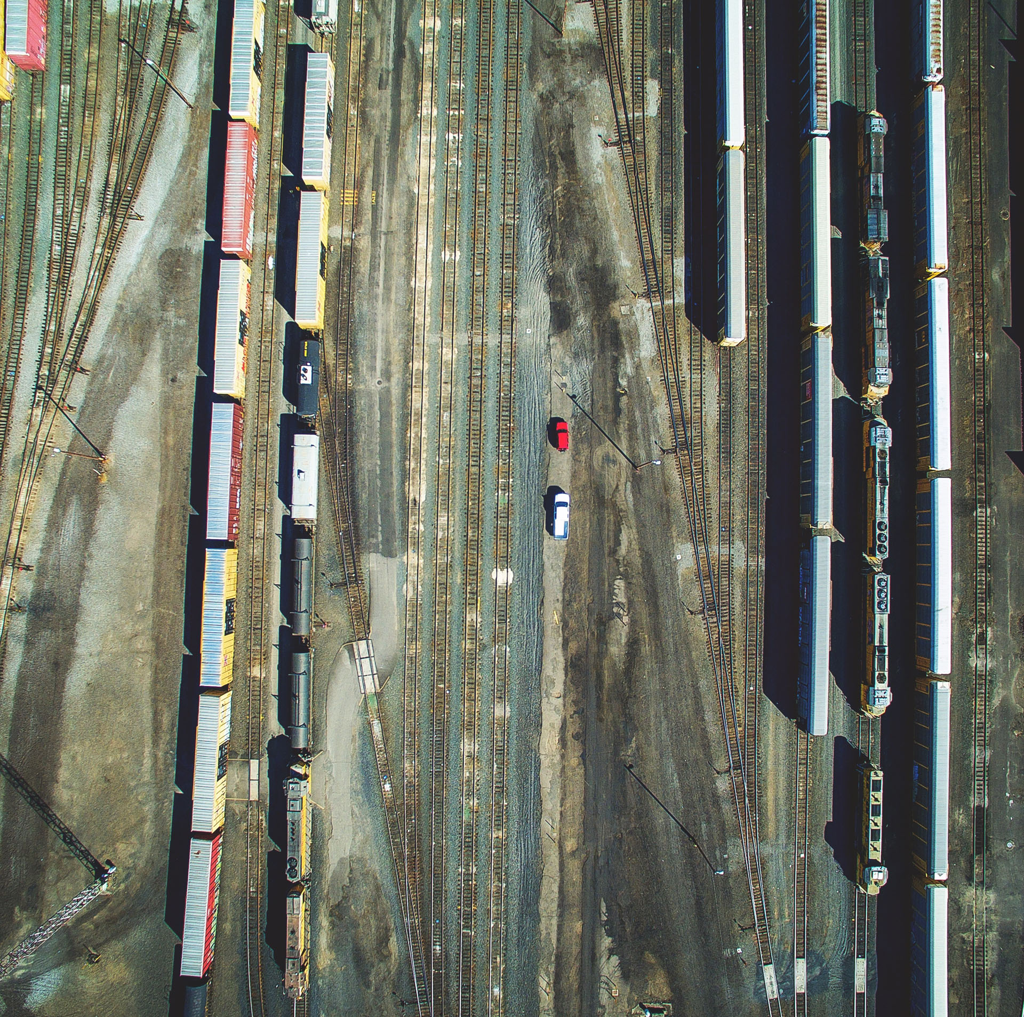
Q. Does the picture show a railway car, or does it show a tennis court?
railway car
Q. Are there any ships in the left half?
No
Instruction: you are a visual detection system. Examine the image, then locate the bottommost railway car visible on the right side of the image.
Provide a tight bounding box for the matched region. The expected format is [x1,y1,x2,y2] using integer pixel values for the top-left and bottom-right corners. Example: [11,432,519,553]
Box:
[852,759,886,904]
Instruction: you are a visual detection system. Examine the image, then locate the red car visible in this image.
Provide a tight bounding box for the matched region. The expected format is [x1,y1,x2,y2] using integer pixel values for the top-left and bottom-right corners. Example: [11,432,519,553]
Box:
[555,422,570,454]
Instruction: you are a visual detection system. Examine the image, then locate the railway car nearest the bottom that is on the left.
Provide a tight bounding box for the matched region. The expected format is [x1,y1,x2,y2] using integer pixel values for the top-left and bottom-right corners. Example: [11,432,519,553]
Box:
[180,970,214,1017]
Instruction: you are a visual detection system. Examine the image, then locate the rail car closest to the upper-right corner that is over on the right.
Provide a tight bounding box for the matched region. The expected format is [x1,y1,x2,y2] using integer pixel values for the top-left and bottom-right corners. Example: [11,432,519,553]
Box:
[851,101,886,254]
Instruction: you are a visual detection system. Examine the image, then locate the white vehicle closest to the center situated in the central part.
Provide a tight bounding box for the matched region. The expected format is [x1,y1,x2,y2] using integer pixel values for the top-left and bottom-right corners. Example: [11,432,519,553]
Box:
[553,493,570,539]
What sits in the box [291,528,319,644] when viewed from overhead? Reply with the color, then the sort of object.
gray rail car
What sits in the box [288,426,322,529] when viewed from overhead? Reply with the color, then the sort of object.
white rail car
